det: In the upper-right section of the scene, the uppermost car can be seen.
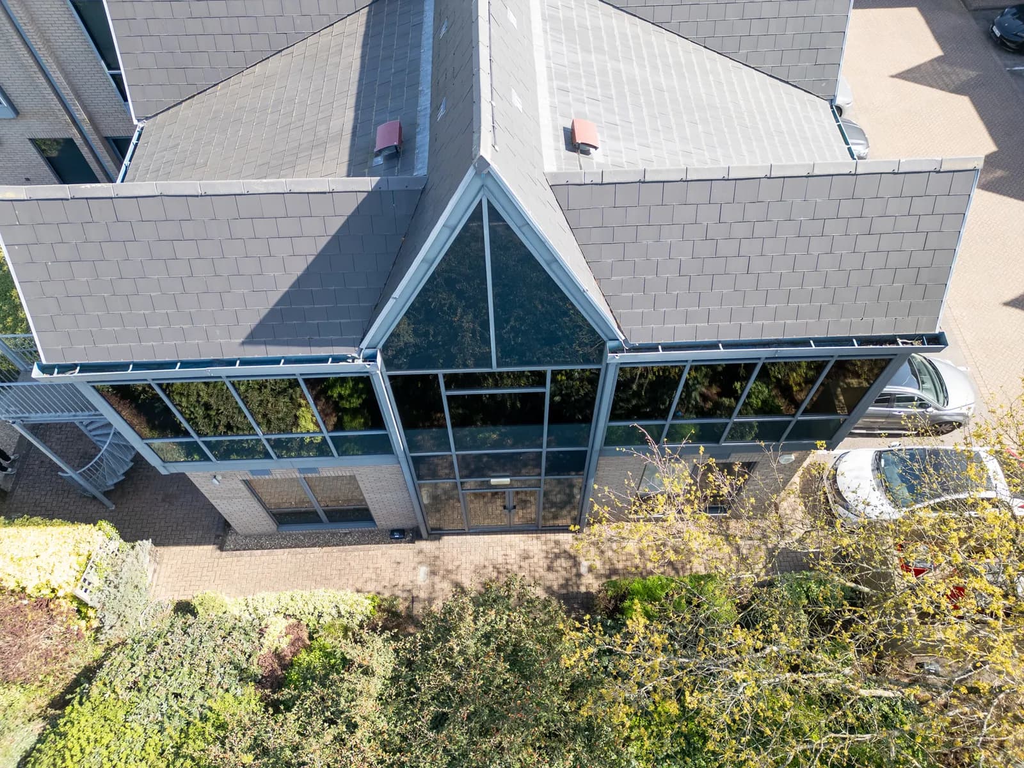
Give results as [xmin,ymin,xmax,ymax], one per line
[978,5,1024,60]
